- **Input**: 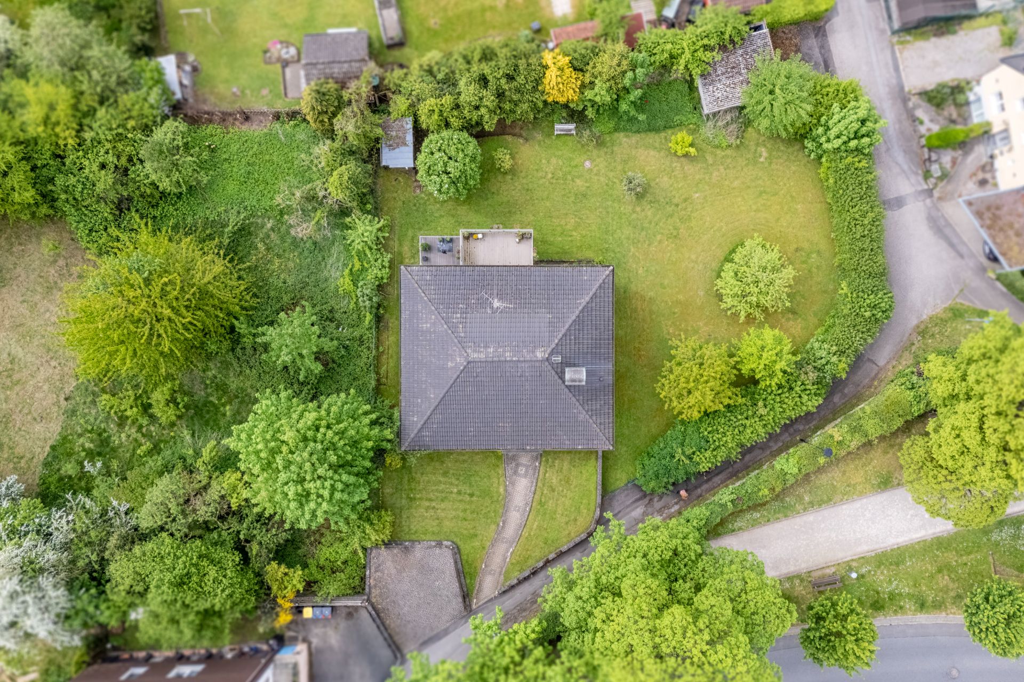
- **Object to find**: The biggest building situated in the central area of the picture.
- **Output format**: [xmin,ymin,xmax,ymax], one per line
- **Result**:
[399,264,616,454]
